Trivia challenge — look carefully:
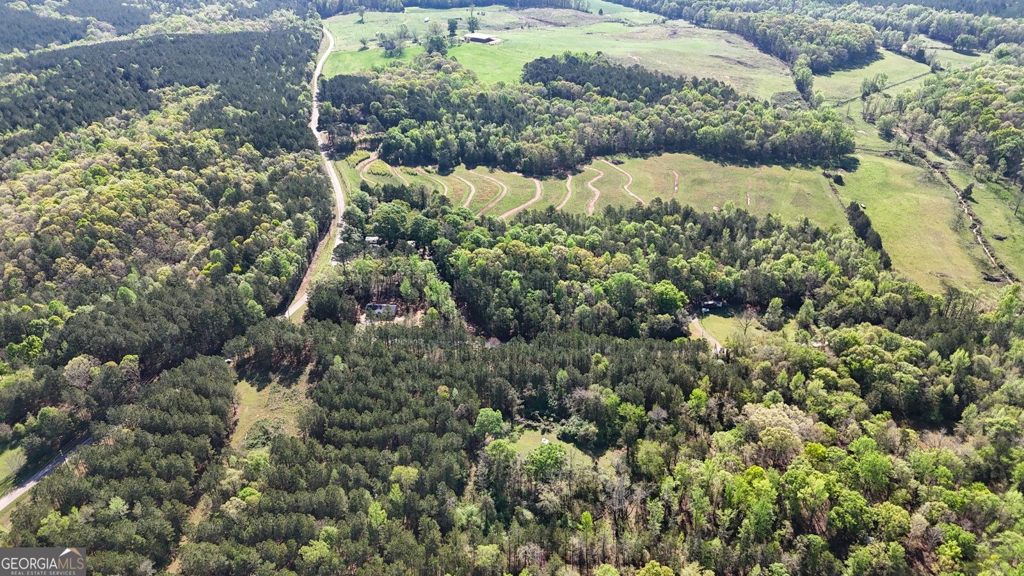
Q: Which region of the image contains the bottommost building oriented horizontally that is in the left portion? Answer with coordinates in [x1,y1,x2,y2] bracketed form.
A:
[365,304,399,320]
